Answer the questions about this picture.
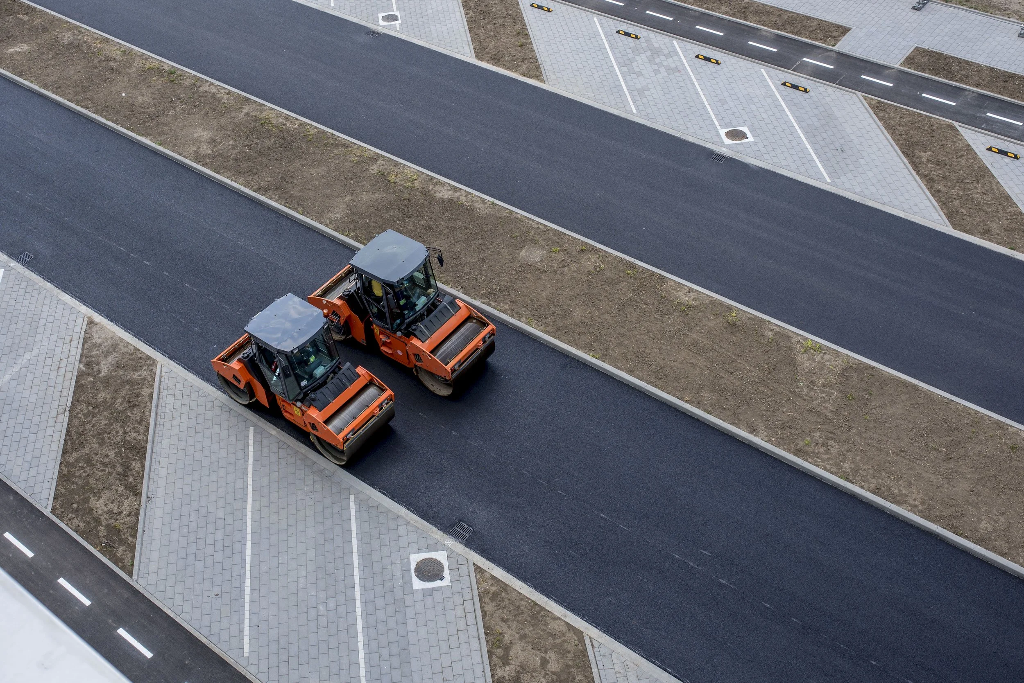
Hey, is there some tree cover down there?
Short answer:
No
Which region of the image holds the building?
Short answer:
bottom left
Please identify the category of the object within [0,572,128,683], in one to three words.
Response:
building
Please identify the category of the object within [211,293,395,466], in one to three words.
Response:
work vehicle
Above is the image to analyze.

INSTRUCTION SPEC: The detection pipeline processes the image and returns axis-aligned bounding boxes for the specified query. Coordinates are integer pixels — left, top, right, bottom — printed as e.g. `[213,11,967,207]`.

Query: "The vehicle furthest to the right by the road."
[309,231,497,397]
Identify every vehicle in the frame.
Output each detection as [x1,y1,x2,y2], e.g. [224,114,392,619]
[211,293,395,466]
[309,231,497,397]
